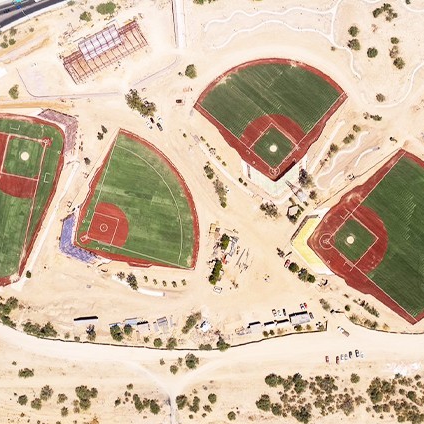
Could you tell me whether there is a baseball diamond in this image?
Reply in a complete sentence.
Yes, looking at the shot, I can spot a baseball diamond.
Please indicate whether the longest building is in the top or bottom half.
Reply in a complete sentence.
The longest building is in the top half of the image.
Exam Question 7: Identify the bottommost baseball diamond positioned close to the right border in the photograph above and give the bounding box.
[308,149,424,324]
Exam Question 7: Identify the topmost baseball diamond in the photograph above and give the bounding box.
[194,58,348,180]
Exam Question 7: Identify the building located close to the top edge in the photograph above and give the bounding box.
[61,18,149,84]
